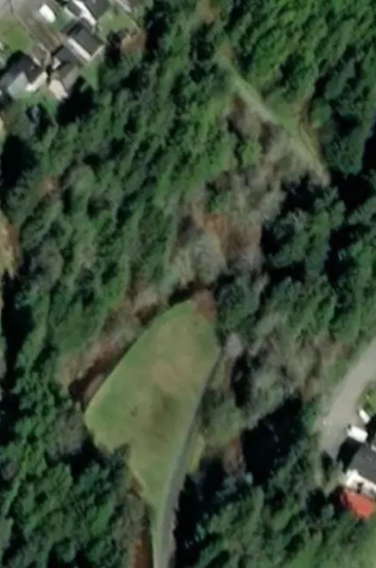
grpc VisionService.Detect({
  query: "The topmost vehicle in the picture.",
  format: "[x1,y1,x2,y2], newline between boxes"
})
[39,2,55,20]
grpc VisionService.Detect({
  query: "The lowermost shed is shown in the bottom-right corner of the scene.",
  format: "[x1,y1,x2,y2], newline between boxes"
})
[338,487,376,518]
